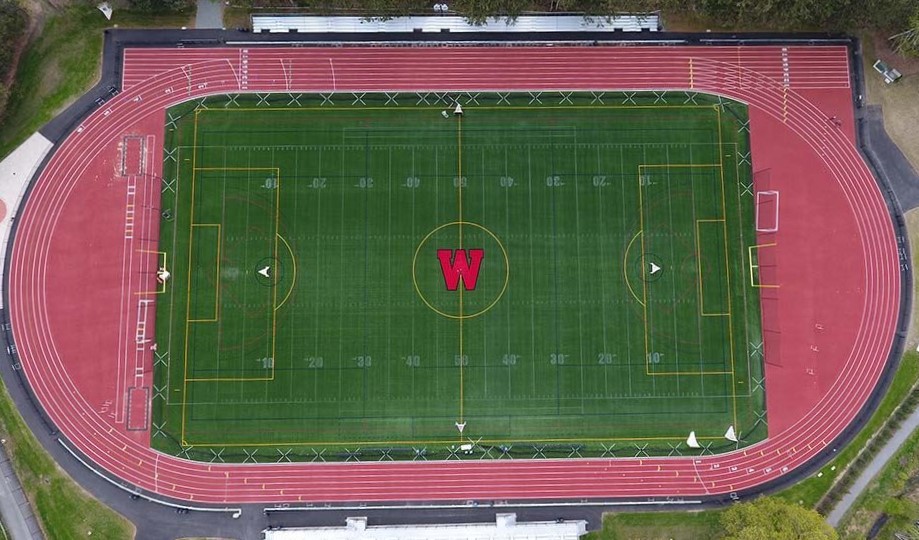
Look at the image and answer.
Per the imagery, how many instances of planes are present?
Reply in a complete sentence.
There are no planes in the image.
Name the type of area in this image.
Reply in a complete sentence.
It's a sports ground.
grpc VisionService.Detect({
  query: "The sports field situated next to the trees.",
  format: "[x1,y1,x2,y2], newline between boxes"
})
[151,91,769,463]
